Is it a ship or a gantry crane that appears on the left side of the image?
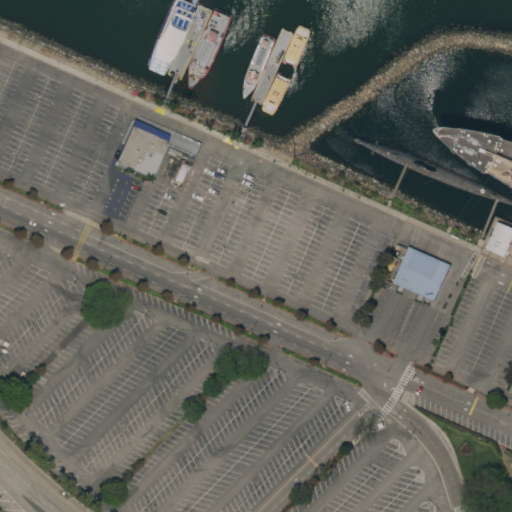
ship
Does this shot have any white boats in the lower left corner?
No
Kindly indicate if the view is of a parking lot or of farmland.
parking lot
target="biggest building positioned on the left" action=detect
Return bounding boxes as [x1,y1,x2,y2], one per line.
[118,116,172,180]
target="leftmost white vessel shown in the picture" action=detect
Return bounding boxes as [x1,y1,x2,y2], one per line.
[148,0,201,76]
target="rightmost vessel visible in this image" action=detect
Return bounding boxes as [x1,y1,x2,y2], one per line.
[434,127,512,190]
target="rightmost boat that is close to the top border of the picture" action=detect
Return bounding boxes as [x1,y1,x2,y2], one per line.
[284,24,312,66]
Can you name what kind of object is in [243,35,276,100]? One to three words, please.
boat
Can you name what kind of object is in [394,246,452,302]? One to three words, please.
building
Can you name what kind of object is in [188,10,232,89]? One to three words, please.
boat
